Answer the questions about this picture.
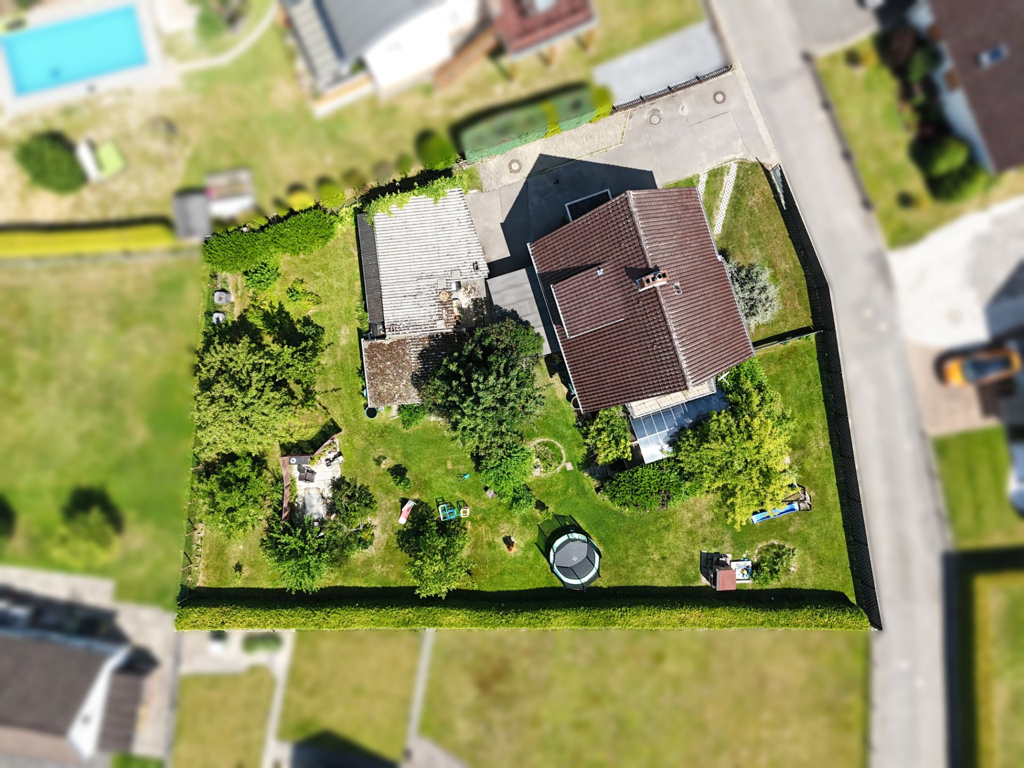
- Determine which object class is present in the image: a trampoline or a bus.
trampoline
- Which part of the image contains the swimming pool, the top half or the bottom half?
top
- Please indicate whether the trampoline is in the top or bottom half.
bottom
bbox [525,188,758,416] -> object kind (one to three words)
house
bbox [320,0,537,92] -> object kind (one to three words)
house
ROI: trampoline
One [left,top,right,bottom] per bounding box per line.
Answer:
[549,523,604,593]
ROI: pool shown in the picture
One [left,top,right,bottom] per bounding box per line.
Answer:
[0,0,153,103]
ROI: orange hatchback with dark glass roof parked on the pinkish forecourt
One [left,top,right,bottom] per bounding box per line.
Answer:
[940,346,1024,387]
